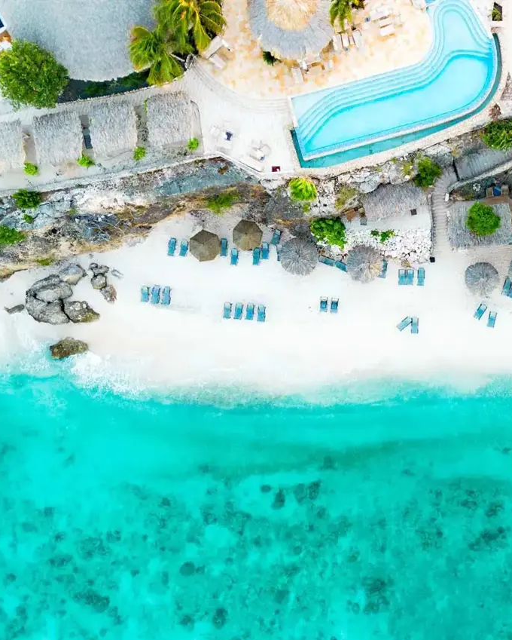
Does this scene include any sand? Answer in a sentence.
Yes, there's sand in this view.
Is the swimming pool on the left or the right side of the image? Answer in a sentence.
You can find the swimming pool on the right side of the picture.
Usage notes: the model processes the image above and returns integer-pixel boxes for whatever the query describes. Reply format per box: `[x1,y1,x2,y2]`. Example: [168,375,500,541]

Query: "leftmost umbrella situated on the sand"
[189,230,220,262]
